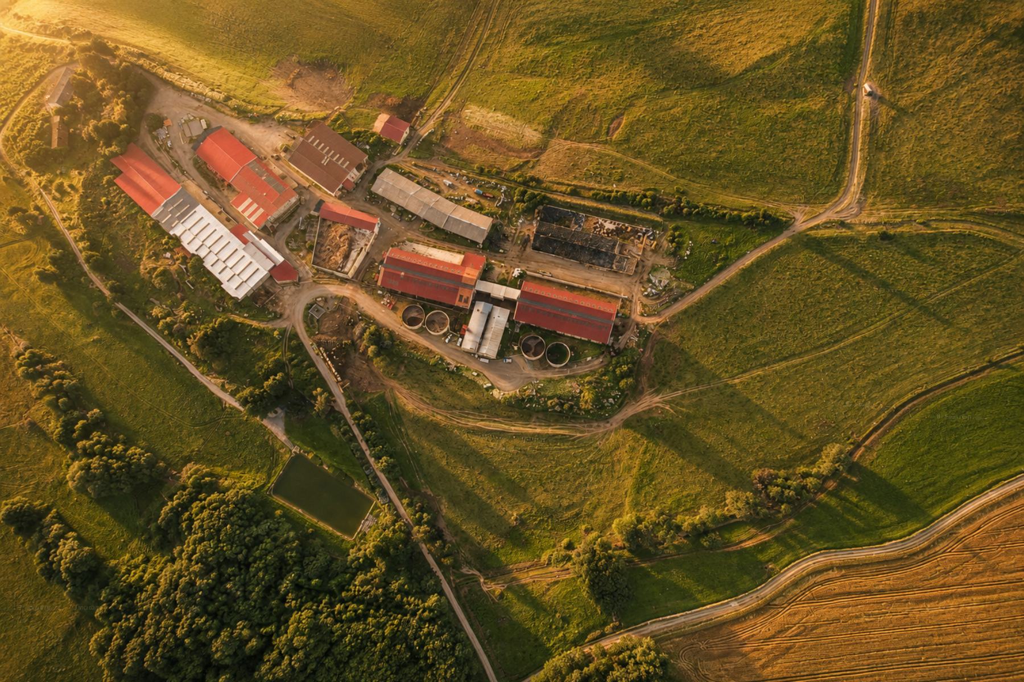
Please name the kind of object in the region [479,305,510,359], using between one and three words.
shed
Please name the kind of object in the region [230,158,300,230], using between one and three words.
barn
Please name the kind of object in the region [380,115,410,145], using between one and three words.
house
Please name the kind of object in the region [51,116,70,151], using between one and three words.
building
